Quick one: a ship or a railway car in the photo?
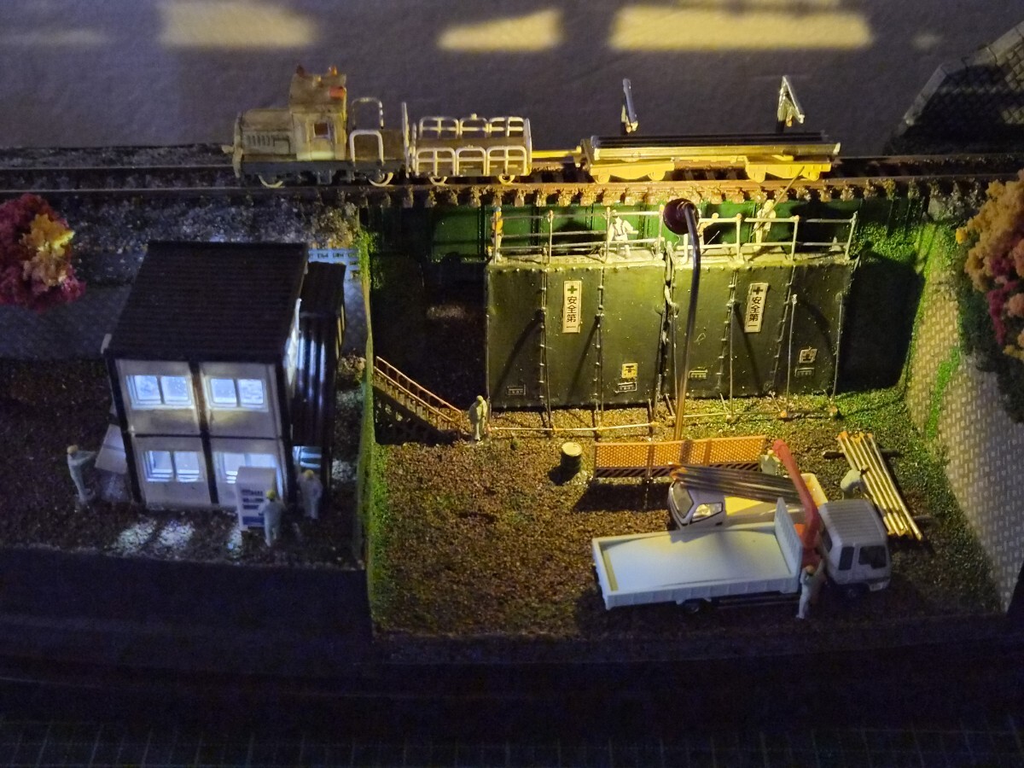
railway car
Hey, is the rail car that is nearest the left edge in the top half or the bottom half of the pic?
top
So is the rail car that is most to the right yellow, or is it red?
yellow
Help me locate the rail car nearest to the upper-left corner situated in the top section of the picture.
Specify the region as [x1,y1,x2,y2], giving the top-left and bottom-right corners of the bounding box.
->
[225,66,403,188]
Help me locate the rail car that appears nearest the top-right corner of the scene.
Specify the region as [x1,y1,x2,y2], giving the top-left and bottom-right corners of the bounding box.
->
[528,67,829,182]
